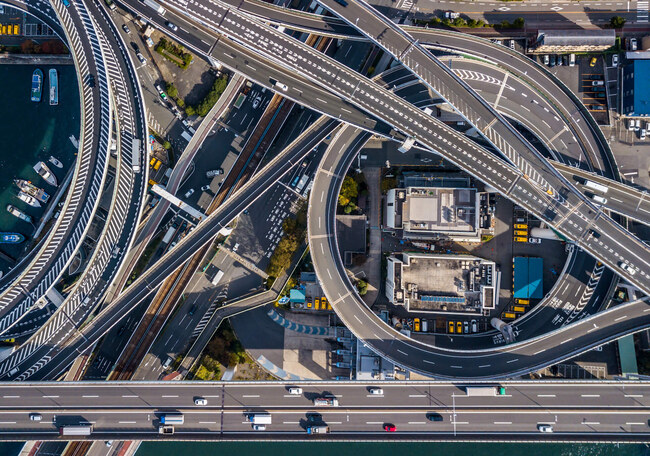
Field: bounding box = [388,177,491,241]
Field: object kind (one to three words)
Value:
building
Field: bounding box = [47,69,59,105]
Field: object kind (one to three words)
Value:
boat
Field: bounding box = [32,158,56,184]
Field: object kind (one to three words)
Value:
boat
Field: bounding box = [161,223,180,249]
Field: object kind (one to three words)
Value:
vehicle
